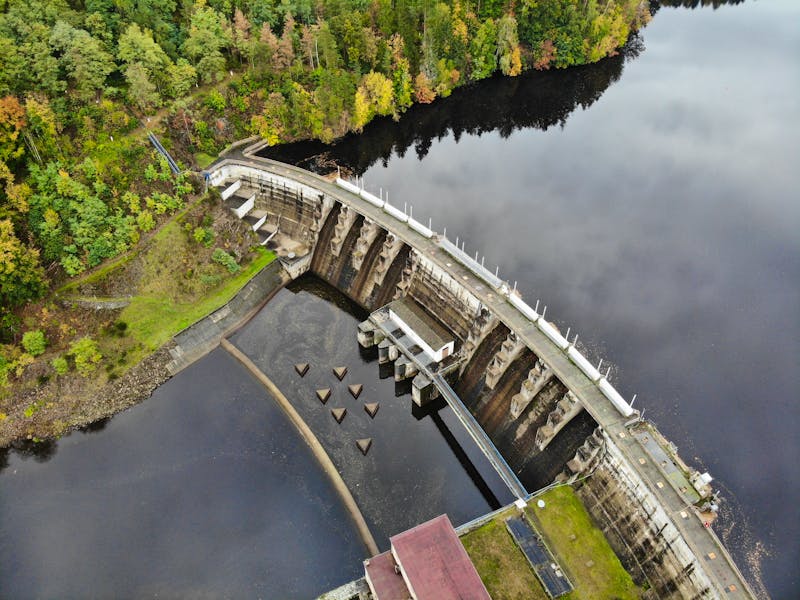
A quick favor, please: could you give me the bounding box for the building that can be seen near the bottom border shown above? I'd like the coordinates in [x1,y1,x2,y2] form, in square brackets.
[364,514,494,600]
